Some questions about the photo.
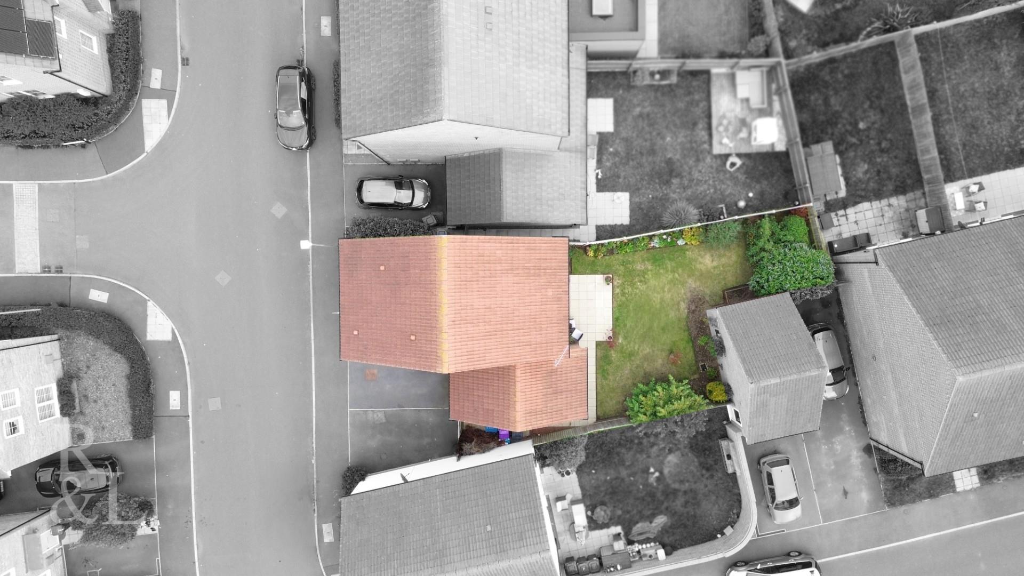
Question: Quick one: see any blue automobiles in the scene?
No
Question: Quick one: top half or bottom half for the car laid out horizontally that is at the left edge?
bottom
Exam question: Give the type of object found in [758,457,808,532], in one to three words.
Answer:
car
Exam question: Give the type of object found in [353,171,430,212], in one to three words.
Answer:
car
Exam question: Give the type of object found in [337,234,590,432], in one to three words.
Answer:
house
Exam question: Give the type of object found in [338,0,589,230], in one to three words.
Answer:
house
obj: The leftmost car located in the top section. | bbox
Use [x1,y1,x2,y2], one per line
[269,63,314,148]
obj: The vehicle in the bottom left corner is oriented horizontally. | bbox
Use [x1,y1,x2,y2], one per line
[32,457,122,504]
